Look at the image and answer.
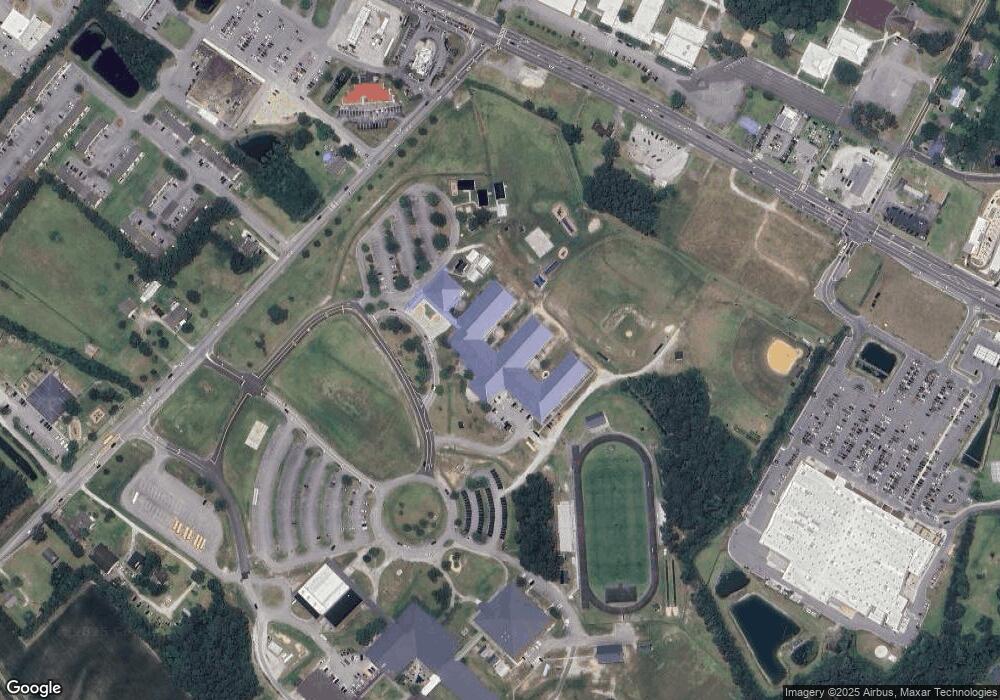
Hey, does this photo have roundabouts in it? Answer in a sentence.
Yes, there's a roundabout here.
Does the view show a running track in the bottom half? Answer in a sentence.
Yes, a running track is visible in the bottom half.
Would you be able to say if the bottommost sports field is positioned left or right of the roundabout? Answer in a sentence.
The bottommost sports field is to the right of the roundabout.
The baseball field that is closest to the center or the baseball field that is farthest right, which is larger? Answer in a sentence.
It is the baseball field that is farthest right that is larger, not the baseball field that is closest to the center.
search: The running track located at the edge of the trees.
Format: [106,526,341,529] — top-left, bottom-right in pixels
[572,432,659,615]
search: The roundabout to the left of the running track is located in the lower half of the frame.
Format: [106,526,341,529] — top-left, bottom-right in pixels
[373,472,457,554]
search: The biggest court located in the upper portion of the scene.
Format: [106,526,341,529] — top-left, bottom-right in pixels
[524,227,554,258]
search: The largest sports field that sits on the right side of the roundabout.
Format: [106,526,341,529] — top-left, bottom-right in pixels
[583,442,648,603]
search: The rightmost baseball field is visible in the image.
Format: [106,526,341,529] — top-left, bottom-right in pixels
[732,314,805,407]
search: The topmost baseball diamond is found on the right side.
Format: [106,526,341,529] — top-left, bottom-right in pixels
[603,307,655,358]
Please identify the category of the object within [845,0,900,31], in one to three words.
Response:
building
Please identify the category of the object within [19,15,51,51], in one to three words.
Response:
building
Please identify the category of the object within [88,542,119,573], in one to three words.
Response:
house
